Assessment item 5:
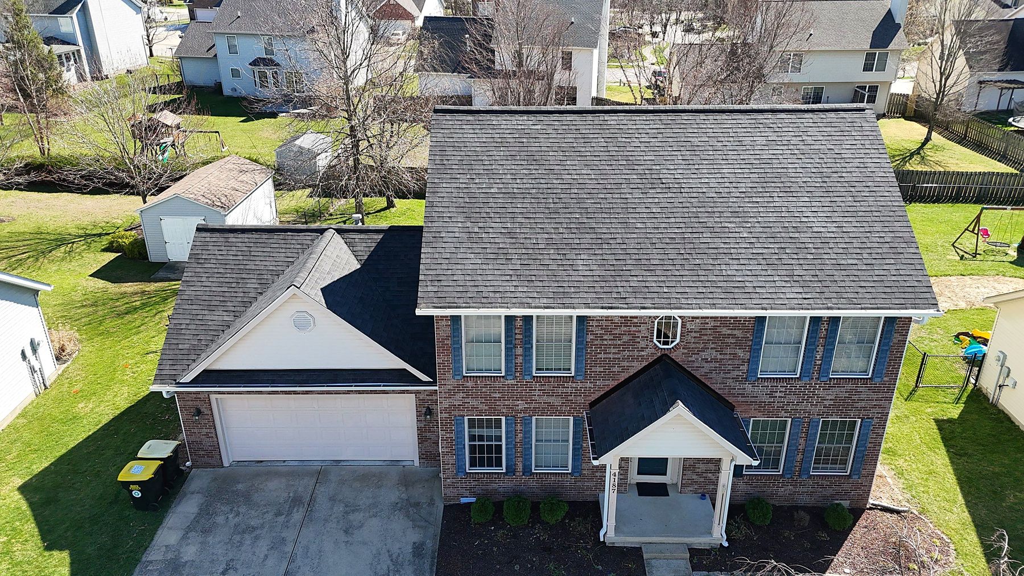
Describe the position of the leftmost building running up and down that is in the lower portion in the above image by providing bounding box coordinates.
[0,281,60,424]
